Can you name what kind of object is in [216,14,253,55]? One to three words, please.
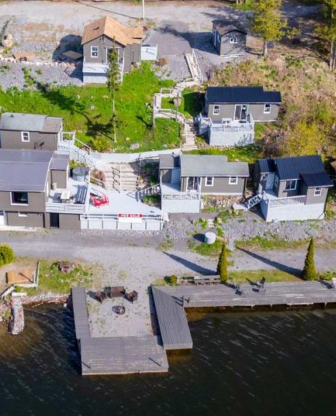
shed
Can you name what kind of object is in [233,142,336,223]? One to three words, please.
house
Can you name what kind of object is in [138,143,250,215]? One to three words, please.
house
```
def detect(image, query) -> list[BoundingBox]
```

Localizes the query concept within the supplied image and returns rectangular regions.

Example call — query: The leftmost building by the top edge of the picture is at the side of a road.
[80,19,157,86]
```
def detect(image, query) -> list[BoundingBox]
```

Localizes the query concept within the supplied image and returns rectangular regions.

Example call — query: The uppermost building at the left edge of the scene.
[0,110,102,156]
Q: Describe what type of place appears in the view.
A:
residential area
